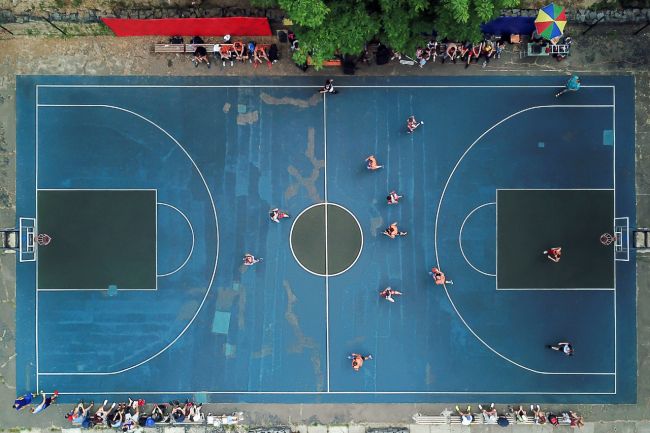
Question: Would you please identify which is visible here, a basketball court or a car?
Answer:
basketball court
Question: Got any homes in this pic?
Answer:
No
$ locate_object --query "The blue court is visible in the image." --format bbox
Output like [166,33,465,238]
[16,76,637,404]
